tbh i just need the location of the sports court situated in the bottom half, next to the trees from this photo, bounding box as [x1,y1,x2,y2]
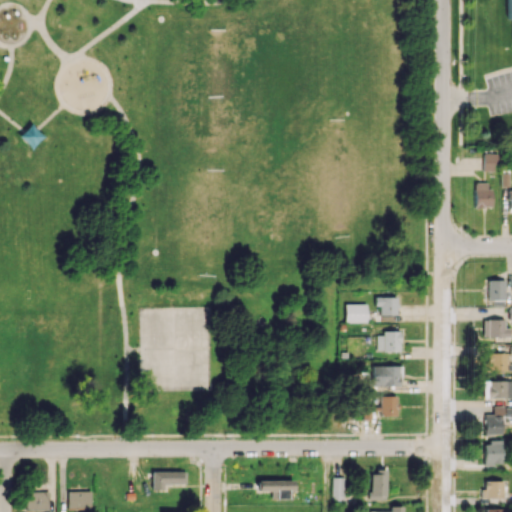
[140,308,210,392]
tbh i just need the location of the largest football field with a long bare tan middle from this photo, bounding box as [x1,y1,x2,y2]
[302,120,373,238]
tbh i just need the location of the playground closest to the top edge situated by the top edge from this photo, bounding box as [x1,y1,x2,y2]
[0,2,32,48]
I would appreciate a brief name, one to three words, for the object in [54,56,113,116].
playground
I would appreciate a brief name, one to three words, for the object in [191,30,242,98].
sports field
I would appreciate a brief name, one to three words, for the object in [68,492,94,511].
house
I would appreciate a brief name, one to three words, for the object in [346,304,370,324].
building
